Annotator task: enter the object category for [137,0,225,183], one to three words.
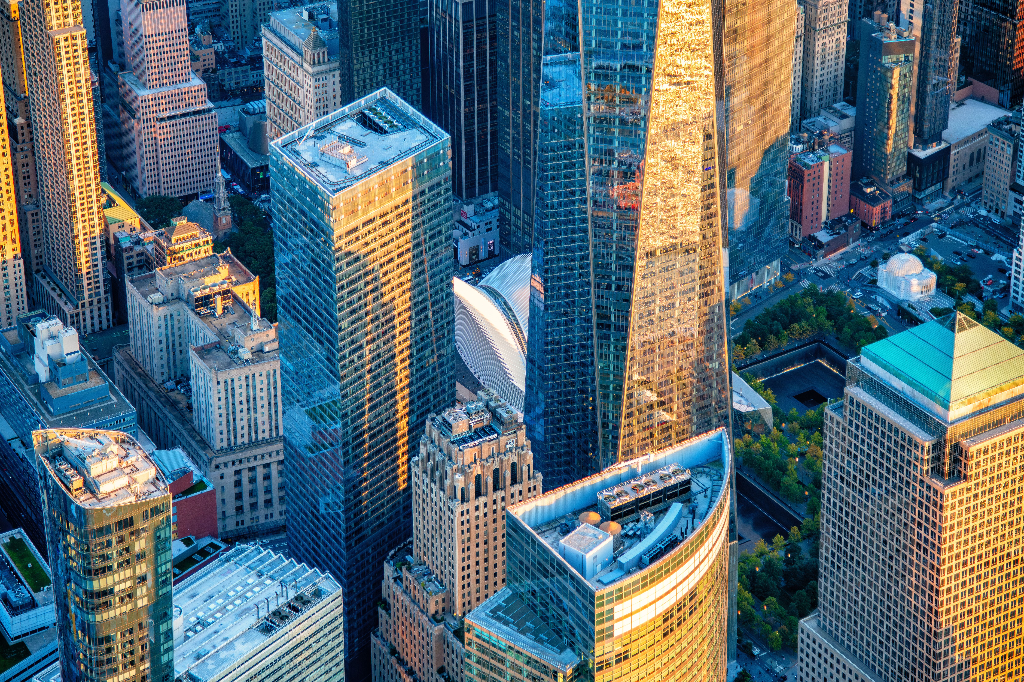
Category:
building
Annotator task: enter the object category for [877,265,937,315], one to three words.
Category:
building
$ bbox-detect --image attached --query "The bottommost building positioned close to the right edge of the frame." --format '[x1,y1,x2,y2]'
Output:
[791,318,1024,682]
